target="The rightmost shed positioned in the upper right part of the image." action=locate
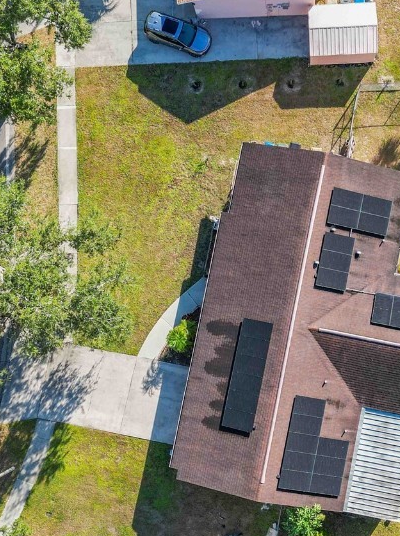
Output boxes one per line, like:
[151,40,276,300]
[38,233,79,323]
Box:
[308,1,377,65]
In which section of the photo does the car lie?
top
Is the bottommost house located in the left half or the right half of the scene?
right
